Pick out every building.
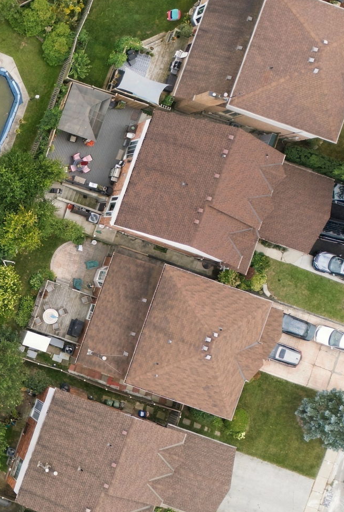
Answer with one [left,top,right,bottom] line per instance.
[96,107,336,274]
[165,0,344,146]
[70,251,284,421]
[5,383,237,512]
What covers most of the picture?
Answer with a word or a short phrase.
buildings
